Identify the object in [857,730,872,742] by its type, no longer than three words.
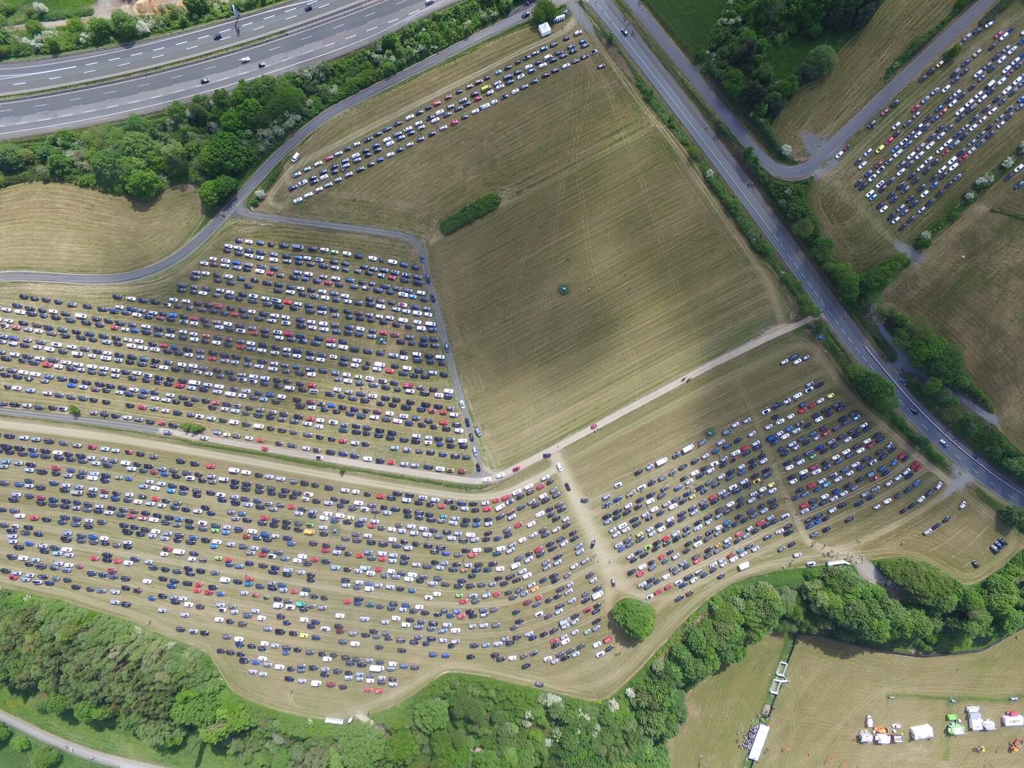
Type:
gazebo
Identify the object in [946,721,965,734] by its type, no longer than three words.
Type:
gazebo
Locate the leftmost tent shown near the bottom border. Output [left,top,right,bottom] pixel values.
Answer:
[748,722,769,760]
